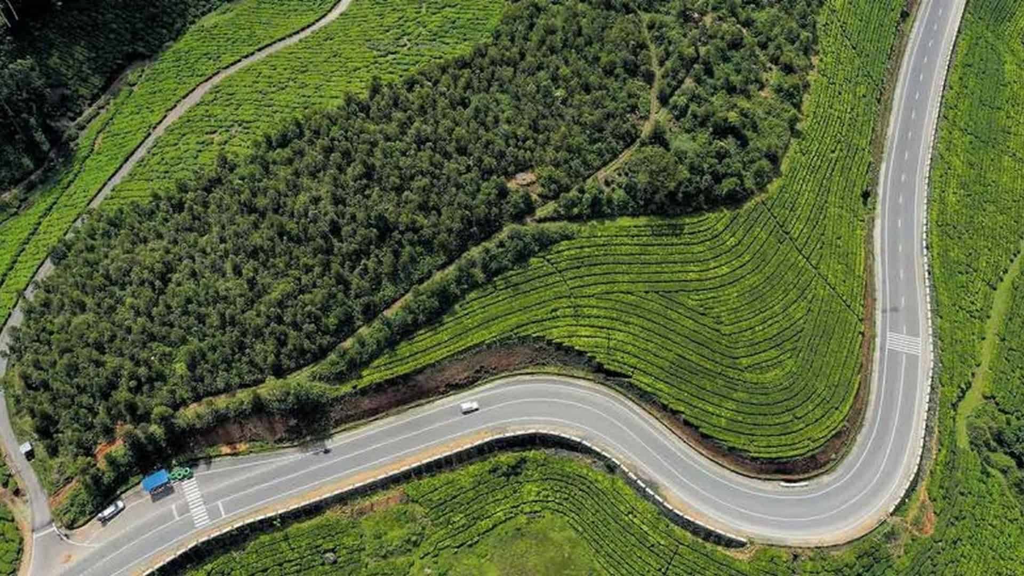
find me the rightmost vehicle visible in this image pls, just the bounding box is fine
[461,403,480,416]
